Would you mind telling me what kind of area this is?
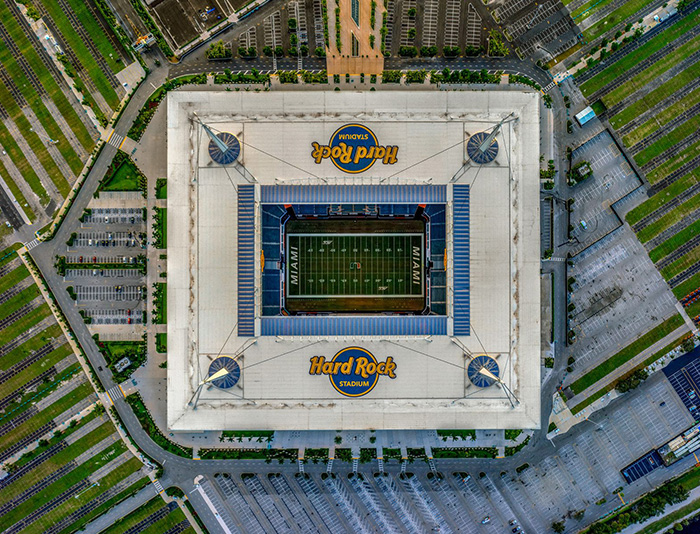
sports ground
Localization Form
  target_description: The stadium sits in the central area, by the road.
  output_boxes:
[167,92,540,430]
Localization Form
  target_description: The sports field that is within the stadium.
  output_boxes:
[284,222,427,308]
